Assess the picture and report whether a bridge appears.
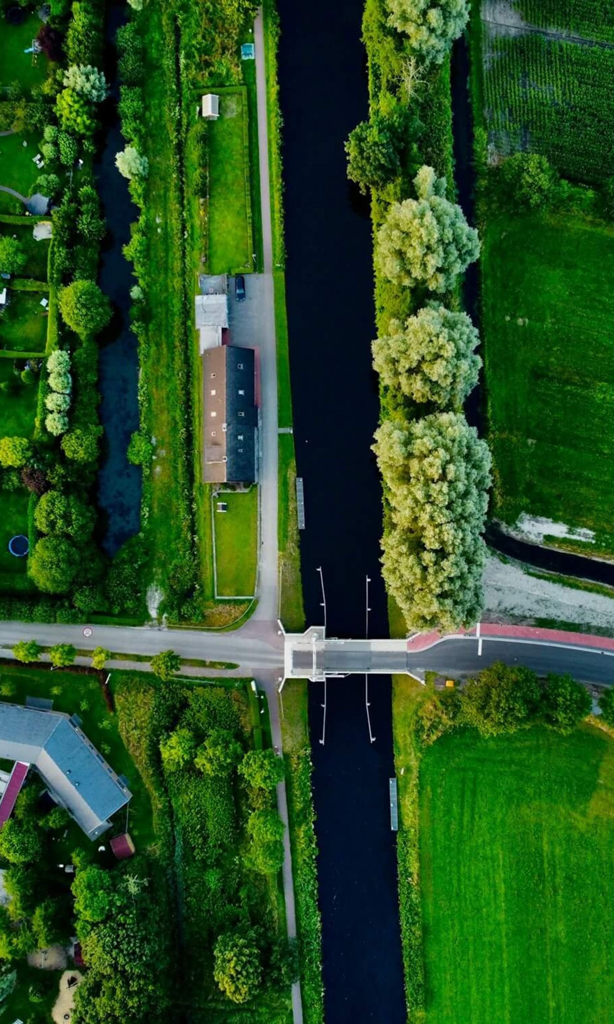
Yes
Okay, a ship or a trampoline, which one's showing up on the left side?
trampoline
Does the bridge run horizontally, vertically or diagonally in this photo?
horizontally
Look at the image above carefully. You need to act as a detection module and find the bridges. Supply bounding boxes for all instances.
[277,618,426,693]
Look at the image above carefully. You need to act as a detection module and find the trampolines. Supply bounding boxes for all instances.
[9,536,27,556]
[4,4,25,26]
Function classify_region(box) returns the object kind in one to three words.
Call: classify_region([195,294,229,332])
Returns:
building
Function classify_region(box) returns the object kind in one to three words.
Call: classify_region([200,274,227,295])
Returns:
shed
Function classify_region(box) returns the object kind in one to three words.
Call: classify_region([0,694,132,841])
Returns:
building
